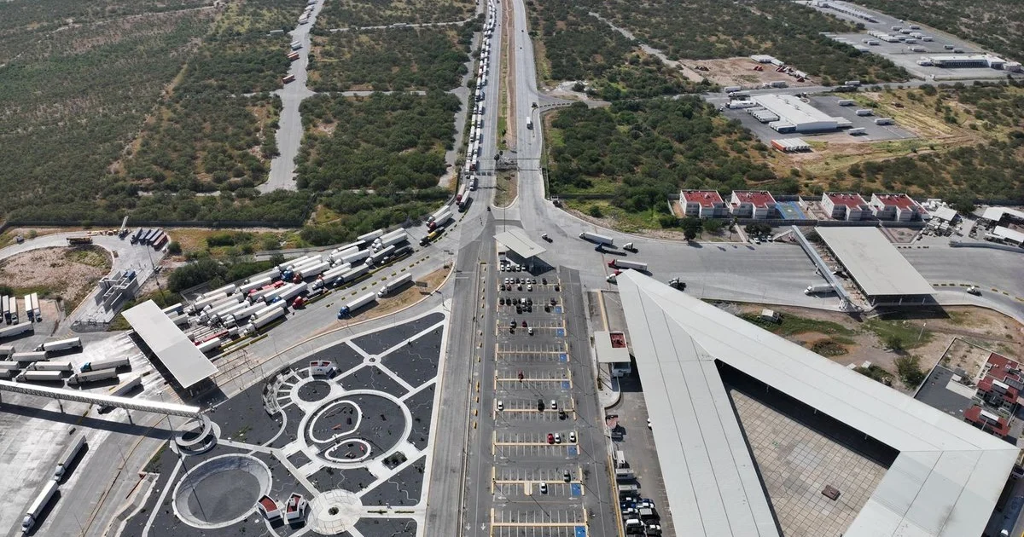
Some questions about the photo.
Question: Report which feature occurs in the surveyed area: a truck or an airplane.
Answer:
truck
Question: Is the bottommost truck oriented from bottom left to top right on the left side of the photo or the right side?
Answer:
left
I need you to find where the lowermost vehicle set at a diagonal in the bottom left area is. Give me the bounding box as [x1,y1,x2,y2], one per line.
[20,481,60,535]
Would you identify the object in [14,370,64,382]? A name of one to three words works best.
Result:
vehicle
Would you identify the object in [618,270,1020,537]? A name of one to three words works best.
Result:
building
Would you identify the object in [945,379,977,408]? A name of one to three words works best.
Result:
house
